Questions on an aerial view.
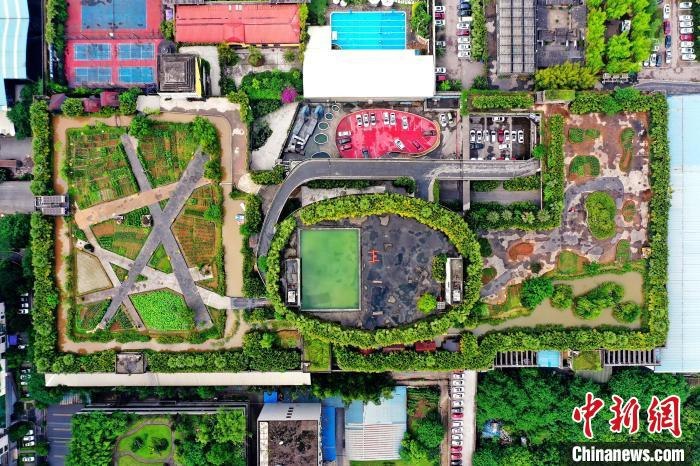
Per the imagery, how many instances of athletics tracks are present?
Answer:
none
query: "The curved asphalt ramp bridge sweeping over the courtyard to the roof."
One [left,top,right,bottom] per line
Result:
[253,158,541,276]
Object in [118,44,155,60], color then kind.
blue sports court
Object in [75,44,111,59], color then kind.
blue sports court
